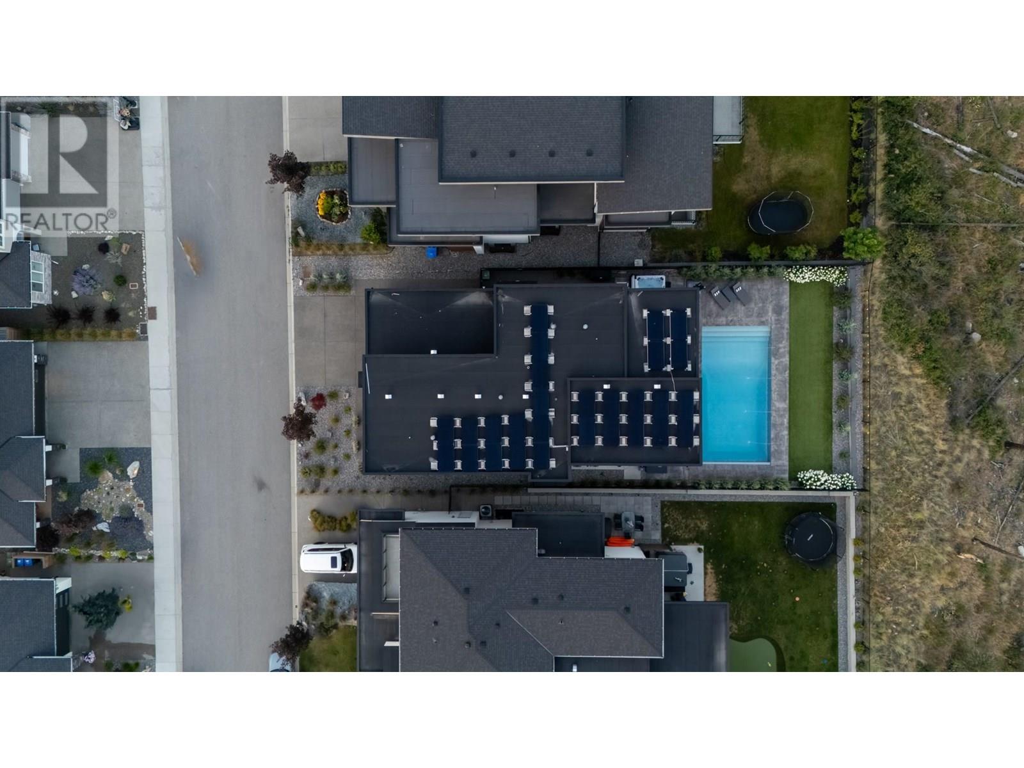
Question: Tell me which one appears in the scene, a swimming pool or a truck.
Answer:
swimming pool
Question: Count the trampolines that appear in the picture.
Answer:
two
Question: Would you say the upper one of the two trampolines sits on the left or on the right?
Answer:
right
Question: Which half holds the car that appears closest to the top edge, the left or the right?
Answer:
left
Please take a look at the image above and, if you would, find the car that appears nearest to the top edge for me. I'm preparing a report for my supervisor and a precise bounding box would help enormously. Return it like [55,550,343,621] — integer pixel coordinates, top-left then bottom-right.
[299,544,358,580]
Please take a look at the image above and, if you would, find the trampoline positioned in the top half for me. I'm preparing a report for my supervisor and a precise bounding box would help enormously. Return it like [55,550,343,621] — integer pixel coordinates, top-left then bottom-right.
[746,187,818,239]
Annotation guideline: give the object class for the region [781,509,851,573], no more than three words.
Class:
trampoline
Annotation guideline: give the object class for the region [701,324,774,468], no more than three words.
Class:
swimming pool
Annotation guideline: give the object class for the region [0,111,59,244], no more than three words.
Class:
house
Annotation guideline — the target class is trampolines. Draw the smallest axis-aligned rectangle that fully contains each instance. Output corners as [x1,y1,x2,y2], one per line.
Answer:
[746,187,818,239]
[781,509,851,573]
